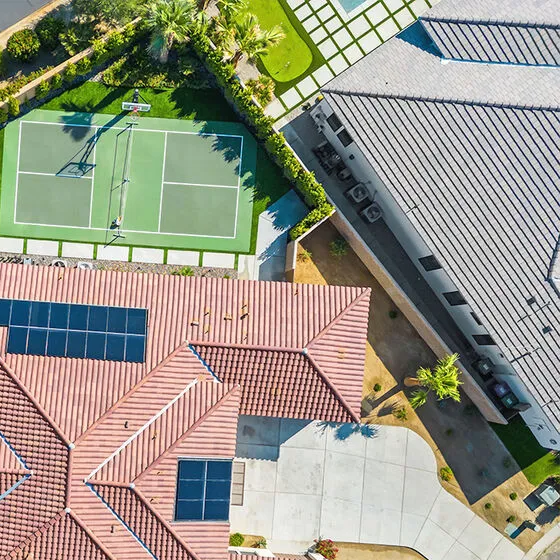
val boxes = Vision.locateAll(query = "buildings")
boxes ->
[0,264,372,560]
[309,0,560,448]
